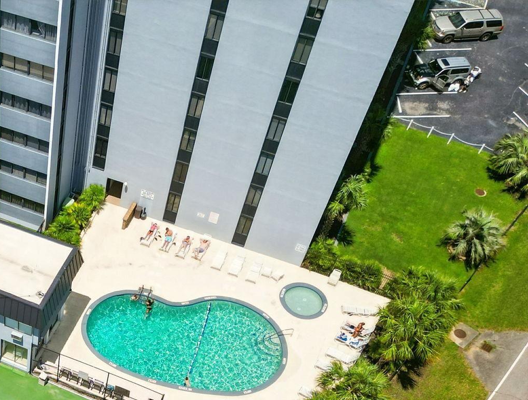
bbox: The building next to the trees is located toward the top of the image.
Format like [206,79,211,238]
[0,0,418,267]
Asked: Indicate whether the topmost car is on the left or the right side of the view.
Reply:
right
